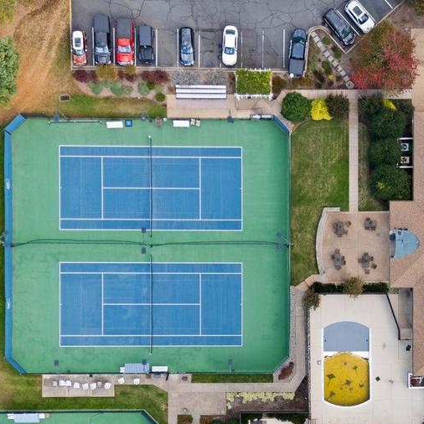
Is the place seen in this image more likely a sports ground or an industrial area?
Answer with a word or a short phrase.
sports ground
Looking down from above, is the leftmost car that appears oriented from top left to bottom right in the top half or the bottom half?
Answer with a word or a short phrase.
top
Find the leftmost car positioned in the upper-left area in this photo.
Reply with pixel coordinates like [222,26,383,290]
[71,32,87,66]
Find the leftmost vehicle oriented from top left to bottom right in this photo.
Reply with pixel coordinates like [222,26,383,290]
[323,7,353,48]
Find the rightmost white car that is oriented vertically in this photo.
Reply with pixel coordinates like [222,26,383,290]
[221,27,238,67]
